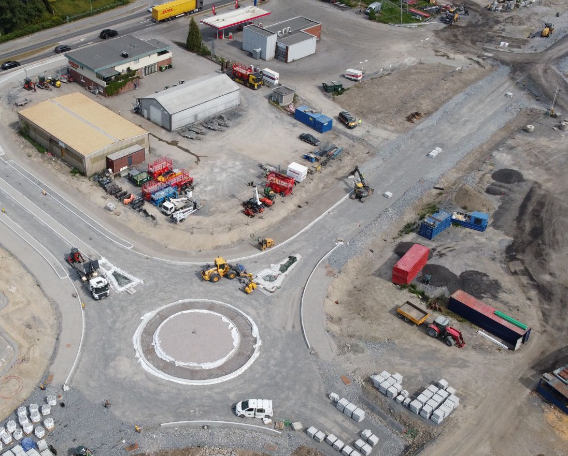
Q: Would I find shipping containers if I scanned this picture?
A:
Yes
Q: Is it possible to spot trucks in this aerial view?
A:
Yes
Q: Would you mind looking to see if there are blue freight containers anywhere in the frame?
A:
Yes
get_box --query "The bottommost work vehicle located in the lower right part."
[432,320,474,352]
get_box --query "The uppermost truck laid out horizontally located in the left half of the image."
[153,0,207,21]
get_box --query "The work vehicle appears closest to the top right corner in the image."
[543,24,555,36]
